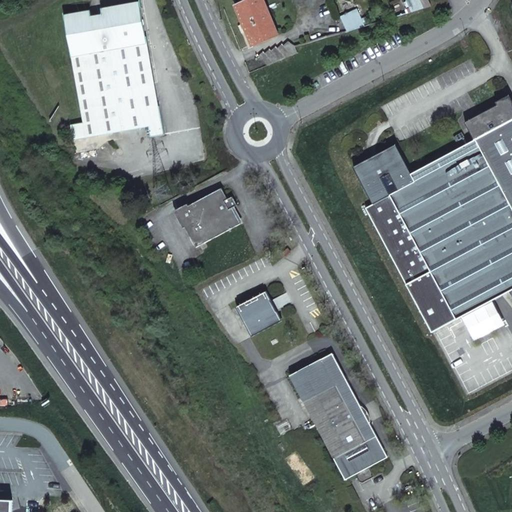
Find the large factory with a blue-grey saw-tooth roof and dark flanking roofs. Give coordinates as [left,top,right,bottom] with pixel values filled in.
[352,96,512,330]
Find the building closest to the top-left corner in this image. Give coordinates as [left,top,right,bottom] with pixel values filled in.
[62,0,165,140]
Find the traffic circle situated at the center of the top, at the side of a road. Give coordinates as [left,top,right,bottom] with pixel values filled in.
[222,99,290,166]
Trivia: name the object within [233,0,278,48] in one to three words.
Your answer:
house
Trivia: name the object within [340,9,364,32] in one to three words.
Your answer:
shed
